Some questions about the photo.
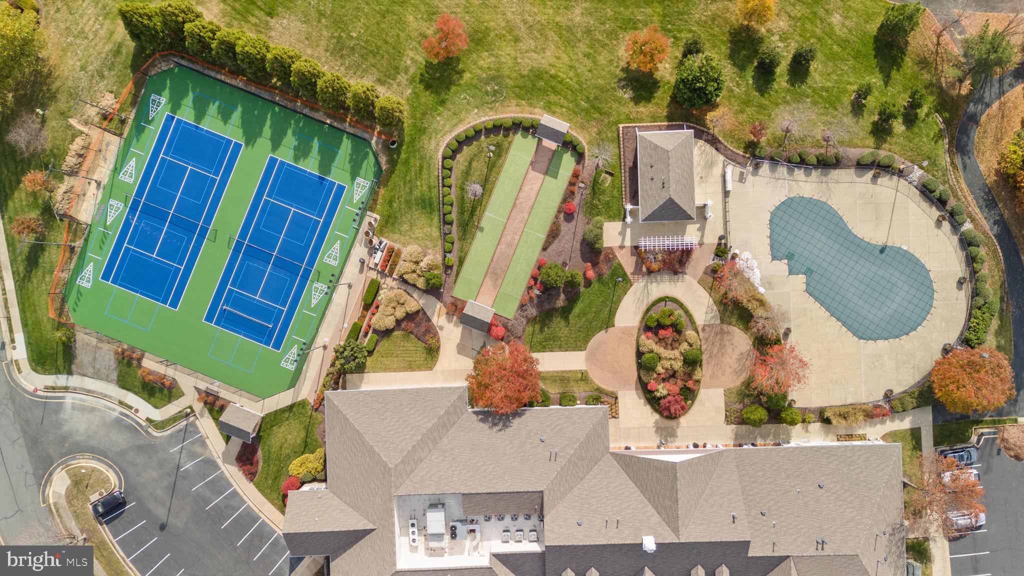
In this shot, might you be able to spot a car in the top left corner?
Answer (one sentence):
No, I can find no car in the top left corner.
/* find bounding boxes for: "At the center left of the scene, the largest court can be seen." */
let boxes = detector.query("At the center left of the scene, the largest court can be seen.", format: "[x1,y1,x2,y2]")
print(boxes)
[63,65,379,399]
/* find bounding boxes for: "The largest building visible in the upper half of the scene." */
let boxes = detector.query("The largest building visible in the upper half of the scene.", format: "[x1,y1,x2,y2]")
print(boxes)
[637,130,696,223]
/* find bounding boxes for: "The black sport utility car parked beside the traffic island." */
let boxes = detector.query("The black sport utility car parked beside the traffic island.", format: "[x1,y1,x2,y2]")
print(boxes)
[91,489,128,519]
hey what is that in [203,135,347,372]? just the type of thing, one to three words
tennis court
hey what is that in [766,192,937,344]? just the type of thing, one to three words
swimming pool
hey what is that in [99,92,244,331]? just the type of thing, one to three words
tennis court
